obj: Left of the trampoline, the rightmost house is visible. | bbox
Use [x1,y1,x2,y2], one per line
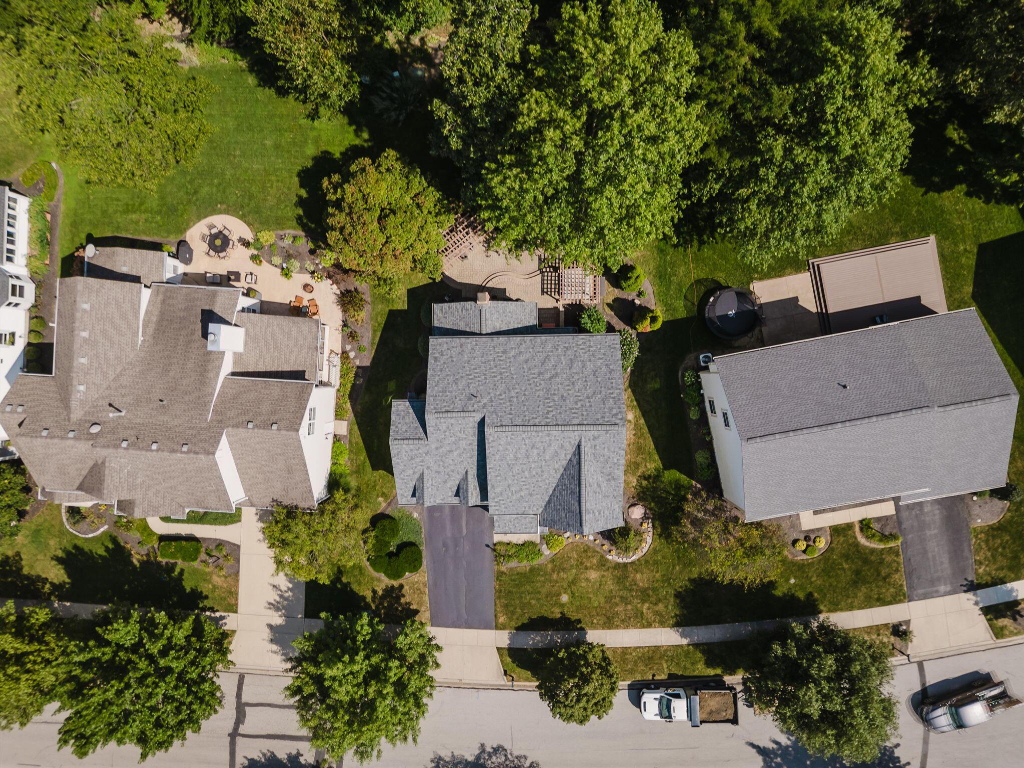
[391,289,627,534]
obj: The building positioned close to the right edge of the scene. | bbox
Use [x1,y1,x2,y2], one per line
[693,307,1018,522]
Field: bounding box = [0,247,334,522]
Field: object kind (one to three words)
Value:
house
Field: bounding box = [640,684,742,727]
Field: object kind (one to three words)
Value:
truck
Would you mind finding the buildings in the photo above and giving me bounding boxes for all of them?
[0,247,334,522]
[693,307,1018,522]
[391,289,627,534]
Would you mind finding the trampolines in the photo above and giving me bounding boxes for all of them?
[704,284,763,340]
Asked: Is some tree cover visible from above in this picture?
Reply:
Yes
